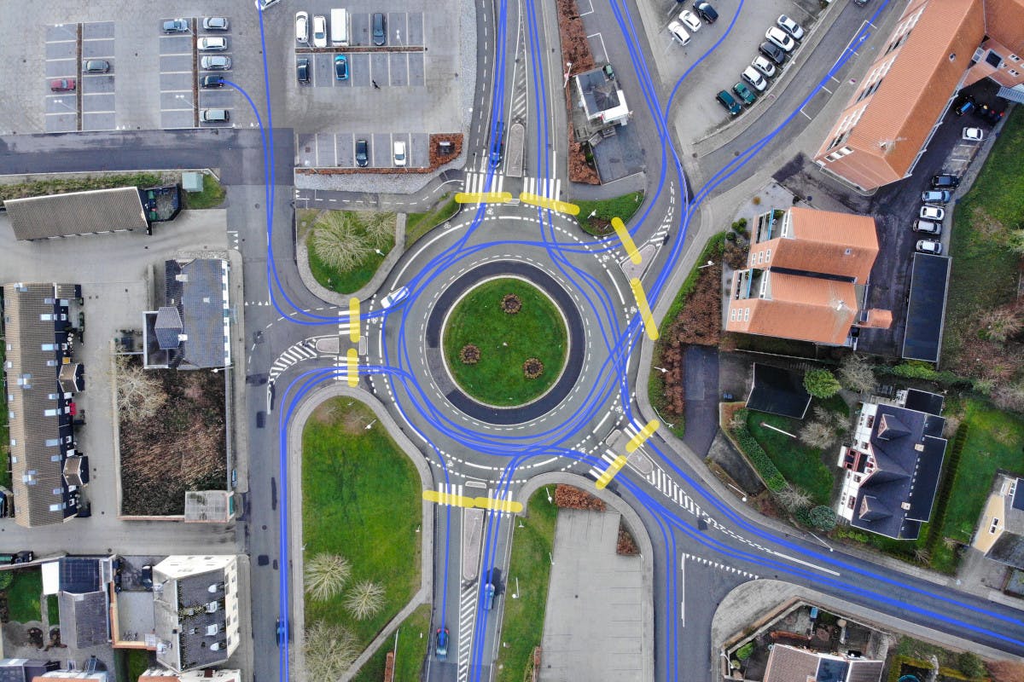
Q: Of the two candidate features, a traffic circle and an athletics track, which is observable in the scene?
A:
traffic circle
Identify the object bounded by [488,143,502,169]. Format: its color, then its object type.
blue car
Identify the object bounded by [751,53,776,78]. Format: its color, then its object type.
white car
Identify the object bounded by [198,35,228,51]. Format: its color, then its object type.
white car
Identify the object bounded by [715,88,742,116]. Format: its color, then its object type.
blue car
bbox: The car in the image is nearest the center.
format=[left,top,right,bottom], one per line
[381,286,409,308]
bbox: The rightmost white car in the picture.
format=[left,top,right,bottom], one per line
[961,126,984,141]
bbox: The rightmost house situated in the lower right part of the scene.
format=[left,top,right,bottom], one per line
[967,475,1024,567]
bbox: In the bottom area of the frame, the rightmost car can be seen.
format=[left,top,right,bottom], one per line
[483,583,496,611]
